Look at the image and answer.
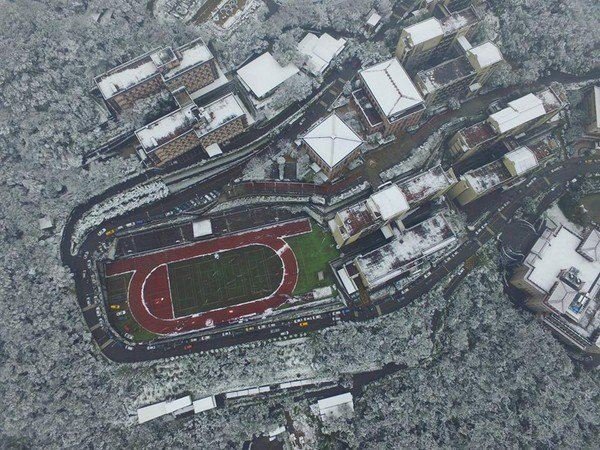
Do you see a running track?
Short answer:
Yes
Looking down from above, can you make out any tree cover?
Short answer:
Yes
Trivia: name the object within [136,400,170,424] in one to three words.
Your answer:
shed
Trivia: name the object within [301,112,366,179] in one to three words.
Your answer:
building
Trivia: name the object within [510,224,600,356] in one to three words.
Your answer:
building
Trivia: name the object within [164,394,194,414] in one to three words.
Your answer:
shed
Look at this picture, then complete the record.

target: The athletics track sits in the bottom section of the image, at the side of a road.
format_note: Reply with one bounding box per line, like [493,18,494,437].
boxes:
[105,221,313,332]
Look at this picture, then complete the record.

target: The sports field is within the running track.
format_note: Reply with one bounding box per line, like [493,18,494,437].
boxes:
[168,244,283,317]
